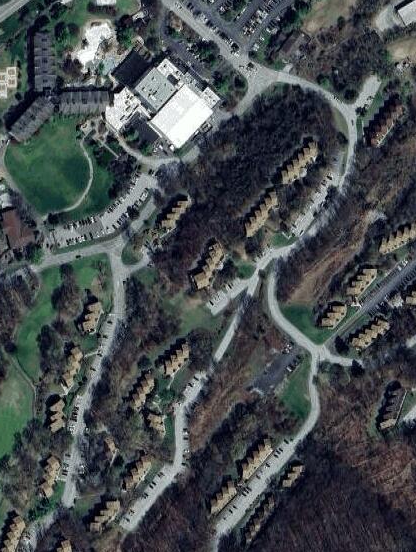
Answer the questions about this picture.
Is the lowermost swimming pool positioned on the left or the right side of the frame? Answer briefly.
left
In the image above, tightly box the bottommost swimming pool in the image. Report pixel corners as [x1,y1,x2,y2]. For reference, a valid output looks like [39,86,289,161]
[67,18,129,86]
